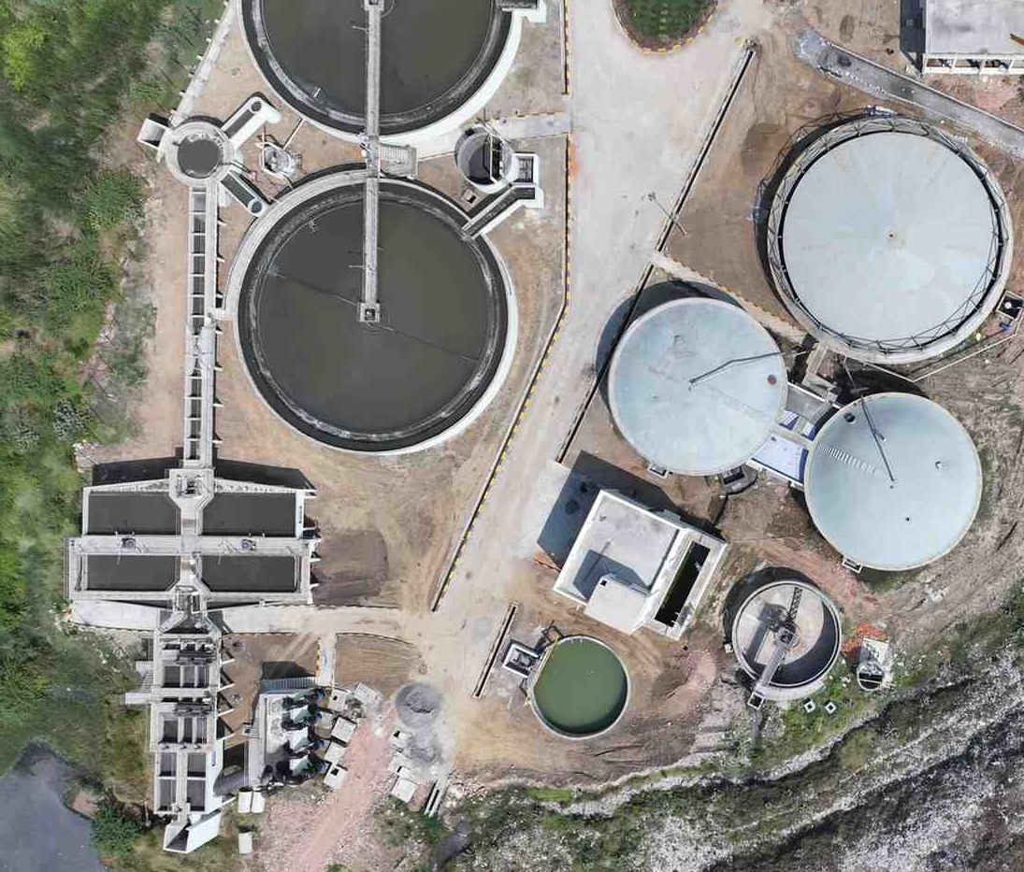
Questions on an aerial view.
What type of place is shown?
industrial area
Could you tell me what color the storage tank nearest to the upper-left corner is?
white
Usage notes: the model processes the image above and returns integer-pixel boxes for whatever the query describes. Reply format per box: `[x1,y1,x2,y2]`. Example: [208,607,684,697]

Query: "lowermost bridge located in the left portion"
[359,160,378,305]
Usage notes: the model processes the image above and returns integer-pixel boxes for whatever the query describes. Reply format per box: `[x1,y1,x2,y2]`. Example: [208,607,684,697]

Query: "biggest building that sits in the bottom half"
[550,487,729,641]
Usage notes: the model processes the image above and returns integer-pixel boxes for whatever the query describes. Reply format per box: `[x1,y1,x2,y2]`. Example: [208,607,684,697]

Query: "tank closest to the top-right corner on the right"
[769,113,1012,363]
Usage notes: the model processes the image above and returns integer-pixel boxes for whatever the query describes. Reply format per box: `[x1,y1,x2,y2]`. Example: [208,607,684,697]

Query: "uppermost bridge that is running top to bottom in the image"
[362,4,382,141]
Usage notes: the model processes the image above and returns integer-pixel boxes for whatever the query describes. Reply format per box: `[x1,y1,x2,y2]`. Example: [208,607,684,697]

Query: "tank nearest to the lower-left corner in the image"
[61,468,319,602]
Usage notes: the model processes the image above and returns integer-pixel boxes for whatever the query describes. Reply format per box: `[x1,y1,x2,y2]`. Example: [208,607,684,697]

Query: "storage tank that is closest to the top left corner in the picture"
[164,96,283,219]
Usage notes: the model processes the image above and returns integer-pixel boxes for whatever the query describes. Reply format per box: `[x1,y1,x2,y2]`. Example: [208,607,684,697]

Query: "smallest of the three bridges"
[752,636,790,694]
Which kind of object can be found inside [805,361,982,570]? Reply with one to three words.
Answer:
storage tank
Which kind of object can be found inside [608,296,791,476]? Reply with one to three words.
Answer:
storage tank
